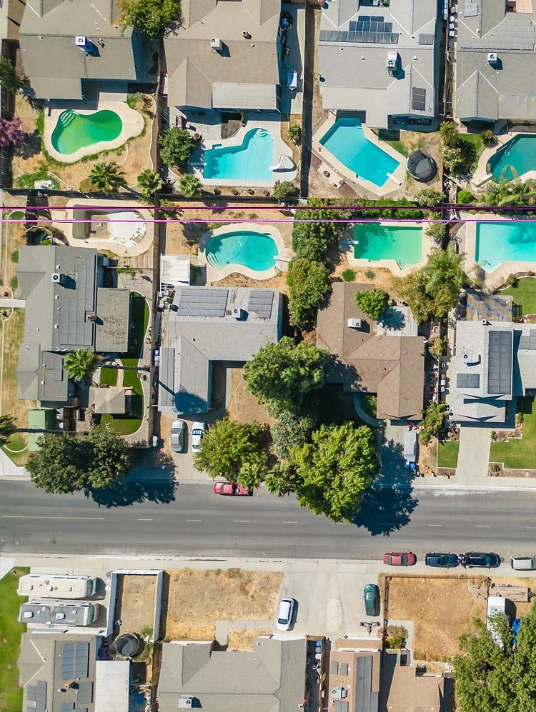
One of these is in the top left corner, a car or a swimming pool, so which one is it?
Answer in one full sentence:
You can see a swimming pool in the top left corner.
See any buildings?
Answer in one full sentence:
Yes, the image includes a building.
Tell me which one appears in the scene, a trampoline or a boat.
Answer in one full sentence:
Of the two, only a trampoline appears.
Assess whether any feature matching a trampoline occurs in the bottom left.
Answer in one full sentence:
Yes, you'll find a trampoline in the bottom left.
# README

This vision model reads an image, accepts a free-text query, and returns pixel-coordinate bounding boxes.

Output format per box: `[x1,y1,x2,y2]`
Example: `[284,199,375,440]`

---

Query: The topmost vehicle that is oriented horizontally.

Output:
[215,481,251,497]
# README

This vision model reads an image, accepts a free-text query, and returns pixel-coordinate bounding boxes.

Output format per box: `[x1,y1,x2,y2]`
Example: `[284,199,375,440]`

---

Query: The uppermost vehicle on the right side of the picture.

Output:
[402,429,419,463]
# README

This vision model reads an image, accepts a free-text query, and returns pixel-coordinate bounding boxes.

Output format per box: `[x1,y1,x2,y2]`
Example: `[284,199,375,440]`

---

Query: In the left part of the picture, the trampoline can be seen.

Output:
[110,628,144,662]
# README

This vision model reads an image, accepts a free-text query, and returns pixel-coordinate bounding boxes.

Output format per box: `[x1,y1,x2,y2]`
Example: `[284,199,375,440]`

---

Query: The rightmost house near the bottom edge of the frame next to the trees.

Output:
[385,662,443,712]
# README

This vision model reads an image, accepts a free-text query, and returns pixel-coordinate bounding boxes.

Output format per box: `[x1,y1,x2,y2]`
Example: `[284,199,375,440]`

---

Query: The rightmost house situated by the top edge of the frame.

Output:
[455,0,536,125]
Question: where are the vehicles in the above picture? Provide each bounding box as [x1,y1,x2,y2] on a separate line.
[383,551,417,566]
[15,574,99,600]
[192,421,206,454]
[18,599,102,625]
[171,420,187,452]
[276,597,295,631]
[402,429,419,463]
[362,582,379,617]
[215,481,251,497]
[425,551,460,569]
[463,552,499,569]
[510,554,536,570]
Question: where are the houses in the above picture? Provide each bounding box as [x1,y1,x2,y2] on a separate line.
[448,318,536,424]
[385,662,443,712]
[20,0,143,105]
[159,285,285,414]
[162,0,284,114]
[12,244,137,402]
[328,635,383,712]
[151,632,311,712]
[317,281,428,421]
[13,629,137,712]
[455,0,536,125]
[314,0,436,133]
